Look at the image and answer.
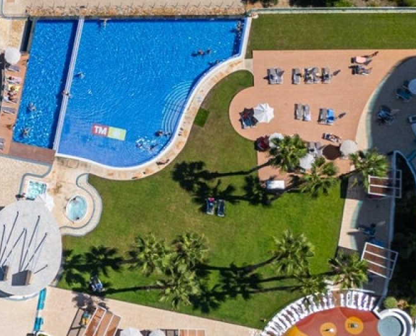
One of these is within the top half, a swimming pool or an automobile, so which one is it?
swimming pool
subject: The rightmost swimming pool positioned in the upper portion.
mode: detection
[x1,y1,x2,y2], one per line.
[59,21,243,166]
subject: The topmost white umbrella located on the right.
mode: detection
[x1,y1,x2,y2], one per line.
[253,103,273,123]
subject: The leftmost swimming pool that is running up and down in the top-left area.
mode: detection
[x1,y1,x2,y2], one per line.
[12,21,79,148]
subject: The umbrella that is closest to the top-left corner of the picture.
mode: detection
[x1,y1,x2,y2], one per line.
[3,48,21,65]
